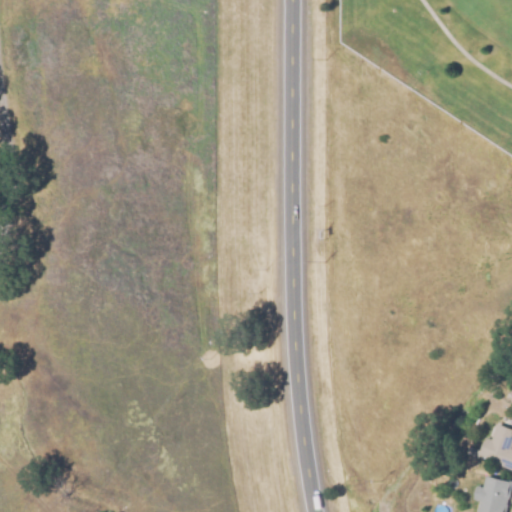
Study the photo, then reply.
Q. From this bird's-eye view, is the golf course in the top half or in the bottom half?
top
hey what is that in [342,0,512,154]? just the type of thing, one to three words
golf course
